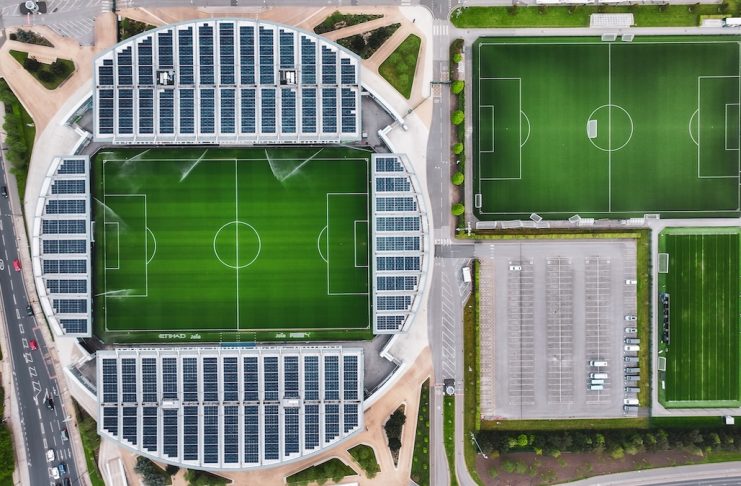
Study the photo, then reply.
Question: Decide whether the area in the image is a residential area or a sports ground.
sports ground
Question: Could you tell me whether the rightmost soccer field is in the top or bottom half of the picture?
bottom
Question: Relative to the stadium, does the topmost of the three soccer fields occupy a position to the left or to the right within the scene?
to the right of it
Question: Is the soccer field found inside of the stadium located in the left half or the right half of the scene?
left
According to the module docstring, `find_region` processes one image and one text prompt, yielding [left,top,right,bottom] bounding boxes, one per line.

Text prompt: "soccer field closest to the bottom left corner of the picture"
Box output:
[91,145,373,345]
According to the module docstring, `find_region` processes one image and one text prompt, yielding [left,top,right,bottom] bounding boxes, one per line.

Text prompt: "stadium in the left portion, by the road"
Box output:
[27,17,432,471]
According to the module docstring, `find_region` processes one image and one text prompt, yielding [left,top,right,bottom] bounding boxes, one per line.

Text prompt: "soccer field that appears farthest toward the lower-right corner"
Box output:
[659,226,741,409]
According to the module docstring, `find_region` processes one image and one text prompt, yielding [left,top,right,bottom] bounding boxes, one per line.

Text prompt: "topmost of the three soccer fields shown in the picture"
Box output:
[473,36,741,220]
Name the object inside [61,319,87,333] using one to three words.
solar array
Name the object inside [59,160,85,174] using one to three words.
solar array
